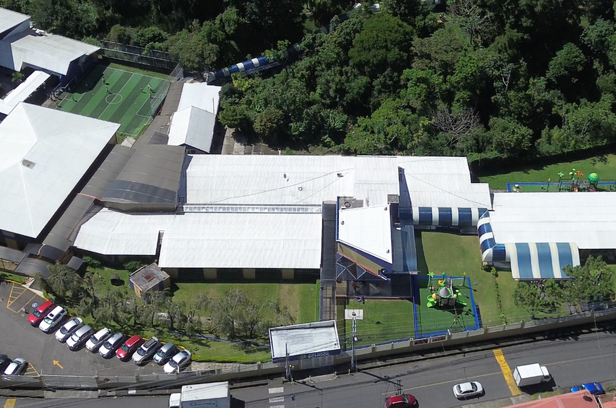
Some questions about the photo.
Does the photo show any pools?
No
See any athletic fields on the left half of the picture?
Yes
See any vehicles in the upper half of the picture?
No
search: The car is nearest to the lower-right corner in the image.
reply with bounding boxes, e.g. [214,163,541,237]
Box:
[570,381,606,396]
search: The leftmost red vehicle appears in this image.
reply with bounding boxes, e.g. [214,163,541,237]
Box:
[28,300,55,325]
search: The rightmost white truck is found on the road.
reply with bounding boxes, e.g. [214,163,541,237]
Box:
[518,362,556,388]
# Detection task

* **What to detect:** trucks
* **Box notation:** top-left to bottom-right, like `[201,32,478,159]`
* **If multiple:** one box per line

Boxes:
[518,362,556,388]
[169,384,231,408]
